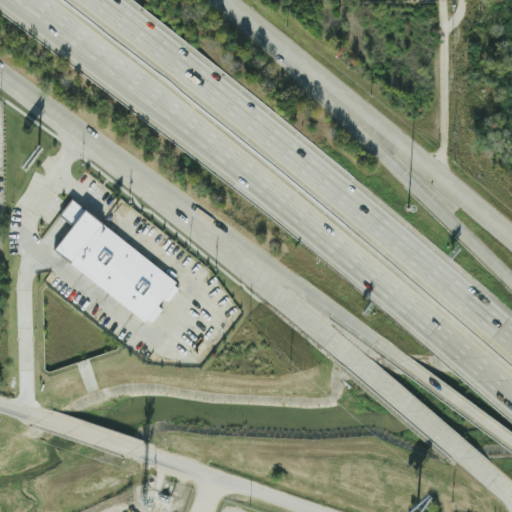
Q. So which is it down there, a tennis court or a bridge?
bridge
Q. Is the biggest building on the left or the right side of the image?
left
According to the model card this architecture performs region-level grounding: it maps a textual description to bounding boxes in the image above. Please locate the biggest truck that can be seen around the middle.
[194,204,230,234]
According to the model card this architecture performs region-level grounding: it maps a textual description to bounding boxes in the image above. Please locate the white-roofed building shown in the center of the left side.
[55,200,179,324]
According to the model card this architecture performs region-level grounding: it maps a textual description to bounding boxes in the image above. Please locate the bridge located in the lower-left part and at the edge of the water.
[38,411,150,458]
